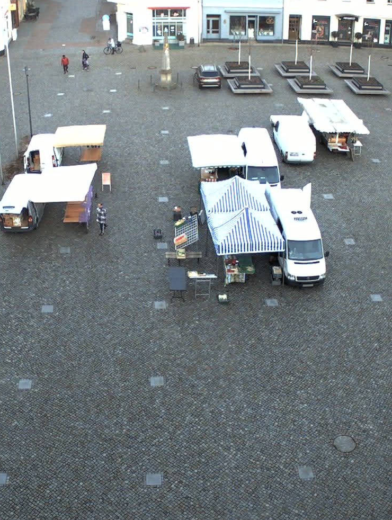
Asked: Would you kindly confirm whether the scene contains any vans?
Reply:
Yes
